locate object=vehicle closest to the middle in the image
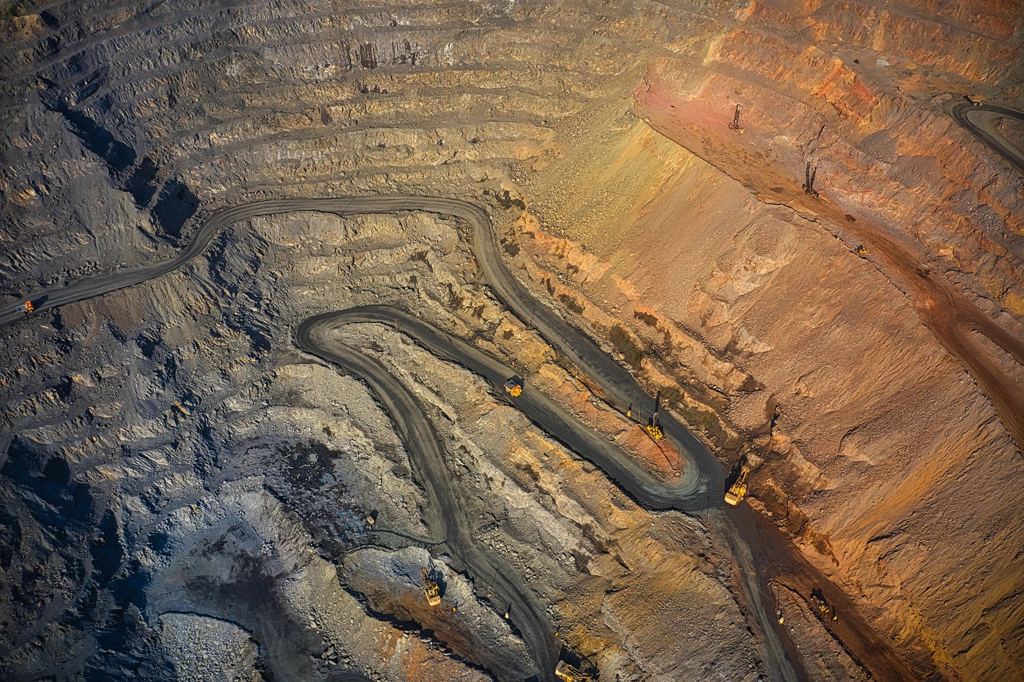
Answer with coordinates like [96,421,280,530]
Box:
[503,377,521,395]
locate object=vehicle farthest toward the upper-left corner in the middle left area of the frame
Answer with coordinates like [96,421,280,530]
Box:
[13,299,34,313]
